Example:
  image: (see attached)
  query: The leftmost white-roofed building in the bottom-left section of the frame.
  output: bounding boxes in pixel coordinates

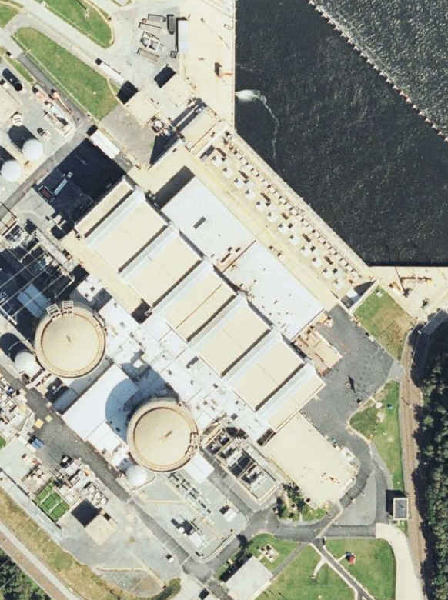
[0,438,34,489]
